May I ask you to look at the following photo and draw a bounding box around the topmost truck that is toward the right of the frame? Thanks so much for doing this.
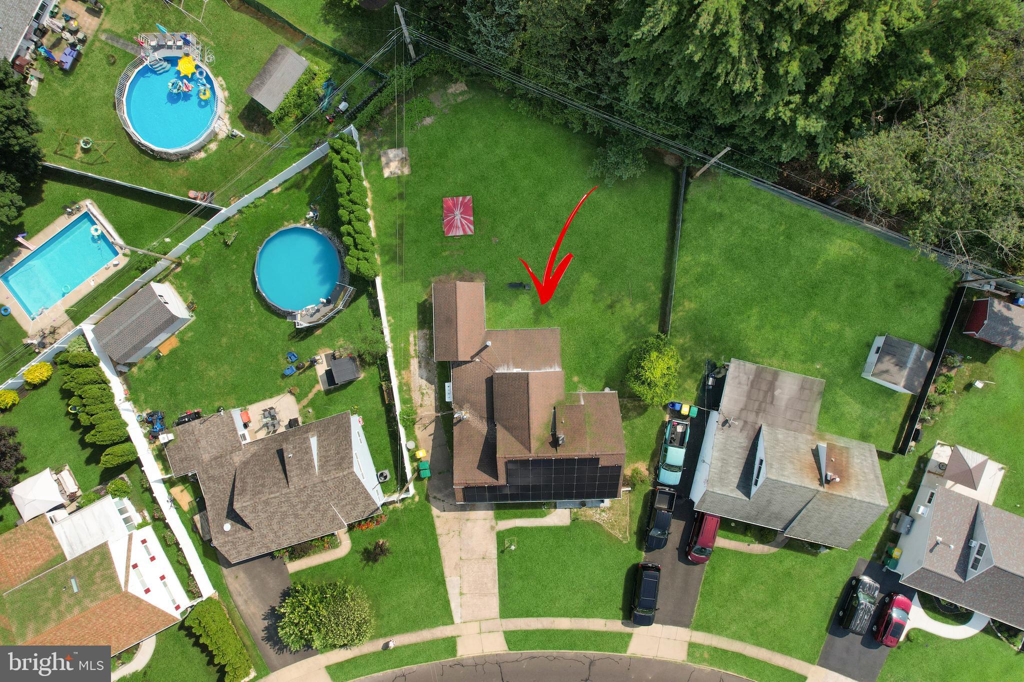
[656,417,691,487]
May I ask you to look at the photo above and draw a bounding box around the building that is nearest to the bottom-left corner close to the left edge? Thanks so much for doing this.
[0,490,196,682]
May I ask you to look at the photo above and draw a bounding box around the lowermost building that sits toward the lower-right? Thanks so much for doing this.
[883,482,1024,632]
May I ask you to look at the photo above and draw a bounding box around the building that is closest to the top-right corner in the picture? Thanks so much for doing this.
[958,297,1024,354]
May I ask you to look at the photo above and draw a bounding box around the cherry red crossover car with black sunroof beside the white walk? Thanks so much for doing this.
[870,587,913,649]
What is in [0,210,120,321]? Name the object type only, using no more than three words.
swimming pool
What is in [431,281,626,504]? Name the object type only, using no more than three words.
house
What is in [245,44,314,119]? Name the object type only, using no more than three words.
shed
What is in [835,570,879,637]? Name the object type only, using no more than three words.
car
